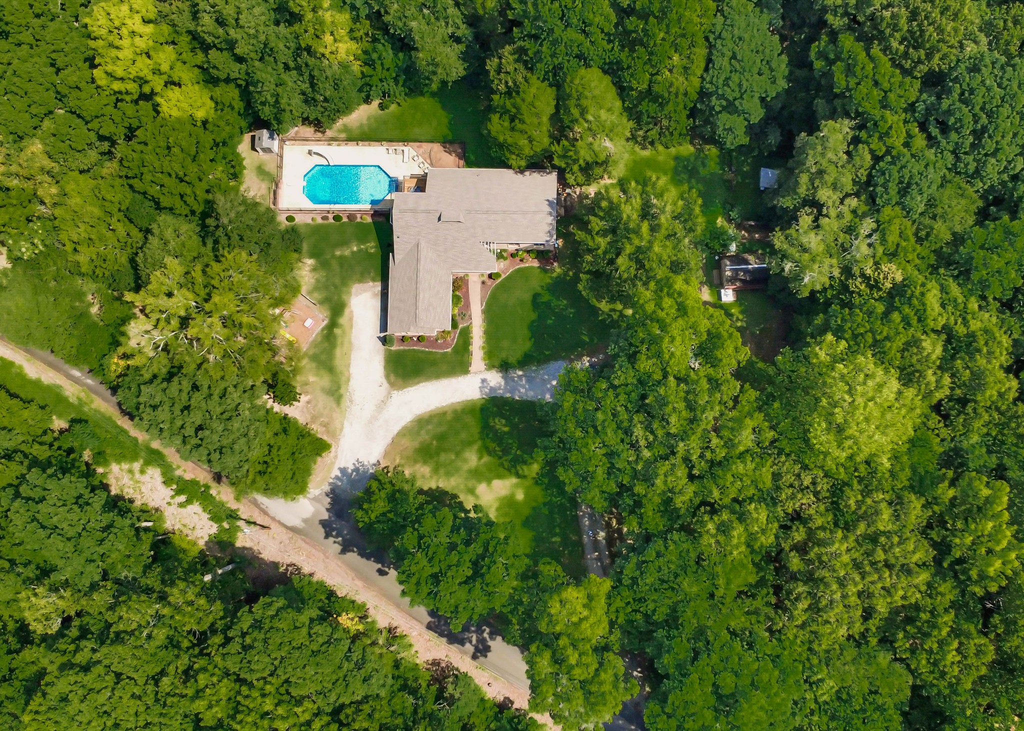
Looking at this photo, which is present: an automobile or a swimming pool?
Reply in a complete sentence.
The image shows a swimming pool.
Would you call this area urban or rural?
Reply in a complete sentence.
It looks rural.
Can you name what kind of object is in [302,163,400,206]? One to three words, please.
swimming pool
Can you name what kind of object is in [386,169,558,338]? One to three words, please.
house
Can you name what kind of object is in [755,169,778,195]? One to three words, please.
shed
